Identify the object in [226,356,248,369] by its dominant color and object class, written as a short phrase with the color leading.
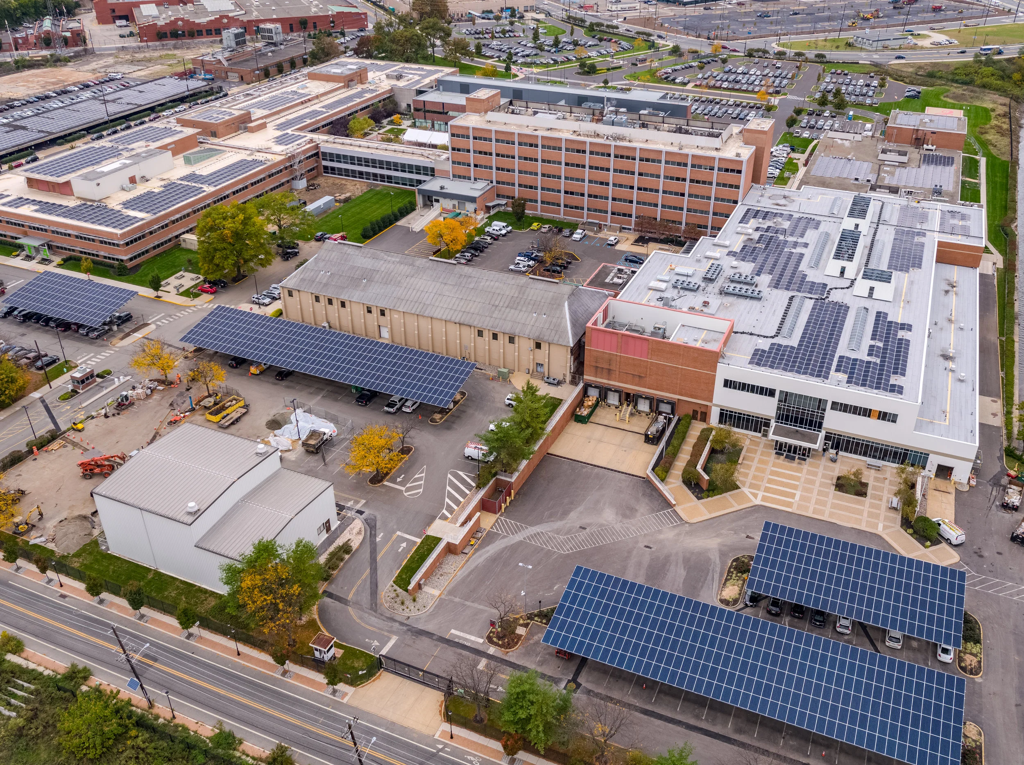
black vehicle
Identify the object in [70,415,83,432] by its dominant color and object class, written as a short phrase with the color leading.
yellow vehicle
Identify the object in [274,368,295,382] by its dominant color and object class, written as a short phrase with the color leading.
black car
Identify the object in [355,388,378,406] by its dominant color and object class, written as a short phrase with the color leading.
black vehicle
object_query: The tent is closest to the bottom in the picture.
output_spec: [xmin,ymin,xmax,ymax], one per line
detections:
[400,123,446,145]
